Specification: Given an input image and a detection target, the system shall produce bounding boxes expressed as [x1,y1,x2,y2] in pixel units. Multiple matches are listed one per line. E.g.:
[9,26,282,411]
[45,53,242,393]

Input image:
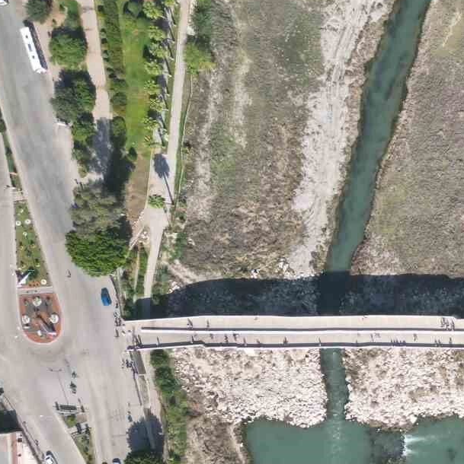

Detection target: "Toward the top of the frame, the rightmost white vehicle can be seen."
[14,24,48,70]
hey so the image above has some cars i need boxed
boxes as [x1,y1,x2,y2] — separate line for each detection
[46,452,58,464]
[101,289,112,306]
